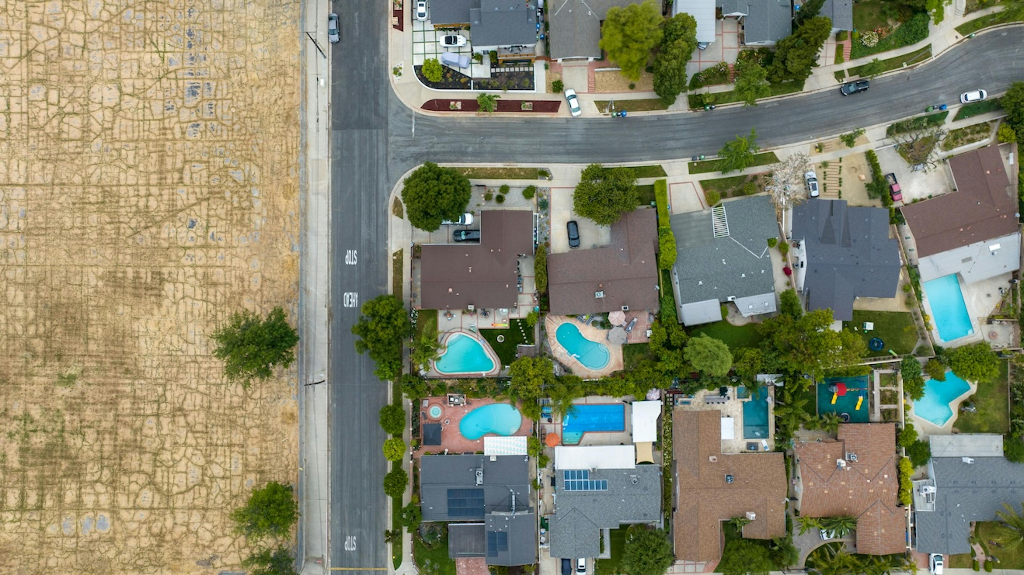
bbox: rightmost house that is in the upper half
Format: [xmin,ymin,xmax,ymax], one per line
[899,144,1021,258]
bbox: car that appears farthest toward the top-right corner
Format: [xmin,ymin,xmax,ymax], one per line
[958,89,987,104]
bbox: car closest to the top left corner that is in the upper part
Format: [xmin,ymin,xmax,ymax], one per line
[328,14,341,43]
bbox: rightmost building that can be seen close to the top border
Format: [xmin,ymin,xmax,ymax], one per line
[819,0,852,33]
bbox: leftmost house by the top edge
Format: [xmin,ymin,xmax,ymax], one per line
[430,0,536,49]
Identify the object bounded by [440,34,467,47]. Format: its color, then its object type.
white vehicle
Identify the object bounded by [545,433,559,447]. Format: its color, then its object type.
orange umbrella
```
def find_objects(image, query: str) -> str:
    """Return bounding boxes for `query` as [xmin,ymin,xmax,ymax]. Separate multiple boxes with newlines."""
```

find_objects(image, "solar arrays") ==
[448,509,485,517]
[488,532,498,557]
[448,490,484,499]
[565,481,607,491]
[565,471,589,480]
[498,532,507,551]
